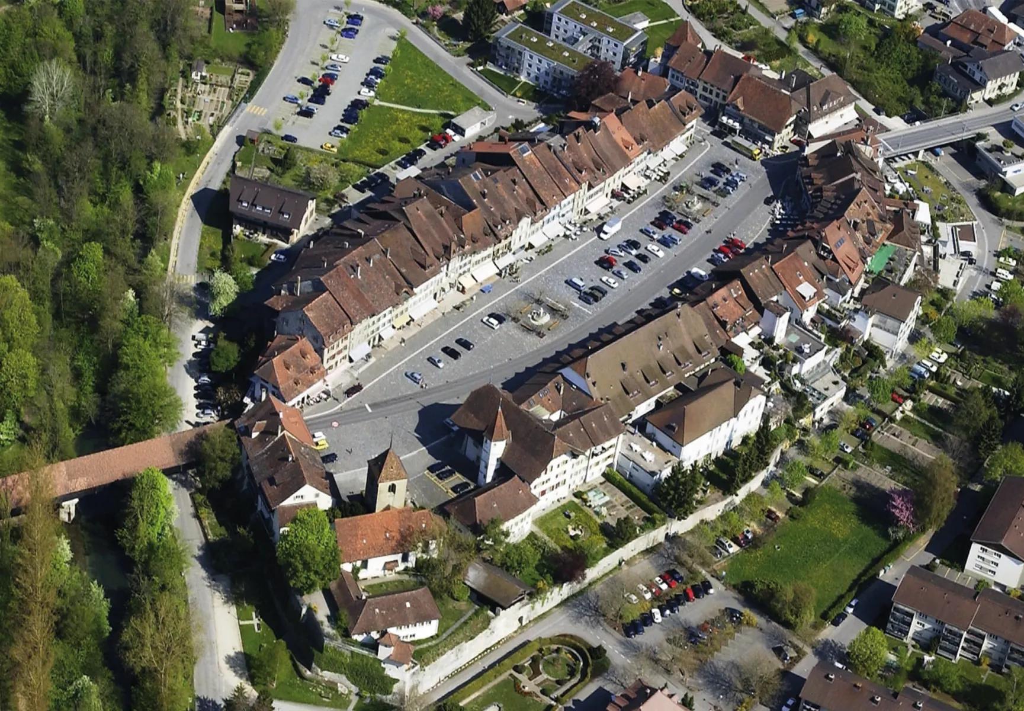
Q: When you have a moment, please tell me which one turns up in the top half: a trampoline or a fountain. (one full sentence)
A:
What appears in the top half is a fountain.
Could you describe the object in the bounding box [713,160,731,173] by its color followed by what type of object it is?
black vehicle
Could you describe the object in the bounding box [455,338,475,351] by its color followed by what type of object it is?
black vehicle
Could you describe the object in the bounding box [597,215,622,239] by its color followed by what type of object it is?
white truck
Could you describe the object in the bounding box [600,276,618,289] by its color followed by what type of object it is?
white vehicle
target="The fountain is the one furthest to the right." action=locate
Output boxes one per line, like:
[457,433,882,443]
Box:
[675,190,702,214]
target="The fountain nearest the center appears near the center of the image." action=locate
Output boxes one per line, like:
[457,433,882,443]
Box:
[522,302,551,327]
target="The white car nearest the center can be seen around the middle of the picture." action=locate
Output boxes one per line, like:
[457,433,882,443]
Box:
[481,316,500,329]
